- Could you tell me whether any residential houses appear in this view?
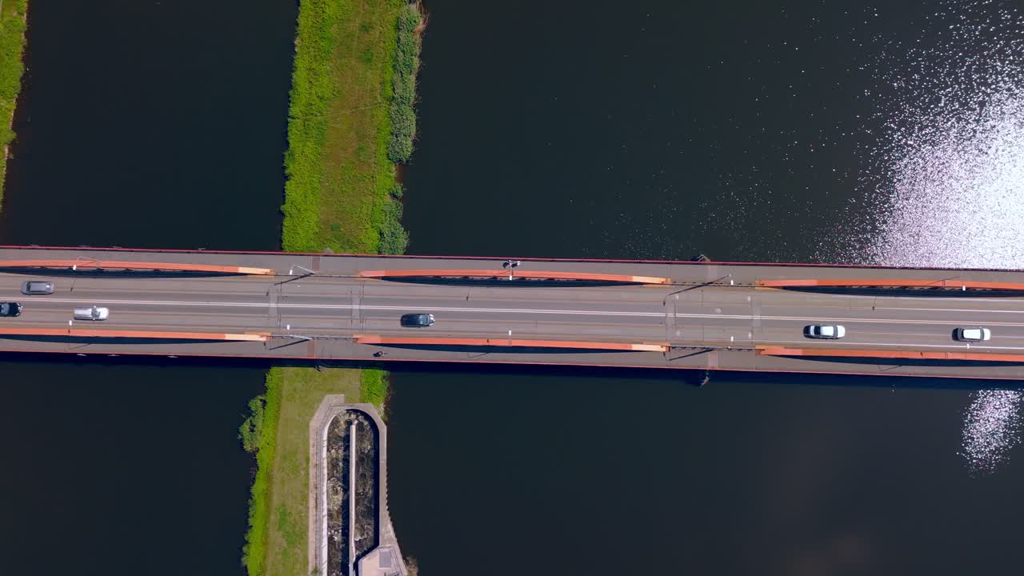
No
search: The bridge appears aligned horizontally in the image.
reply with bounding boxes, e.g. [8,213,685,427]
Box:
[0,245,1024,387]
